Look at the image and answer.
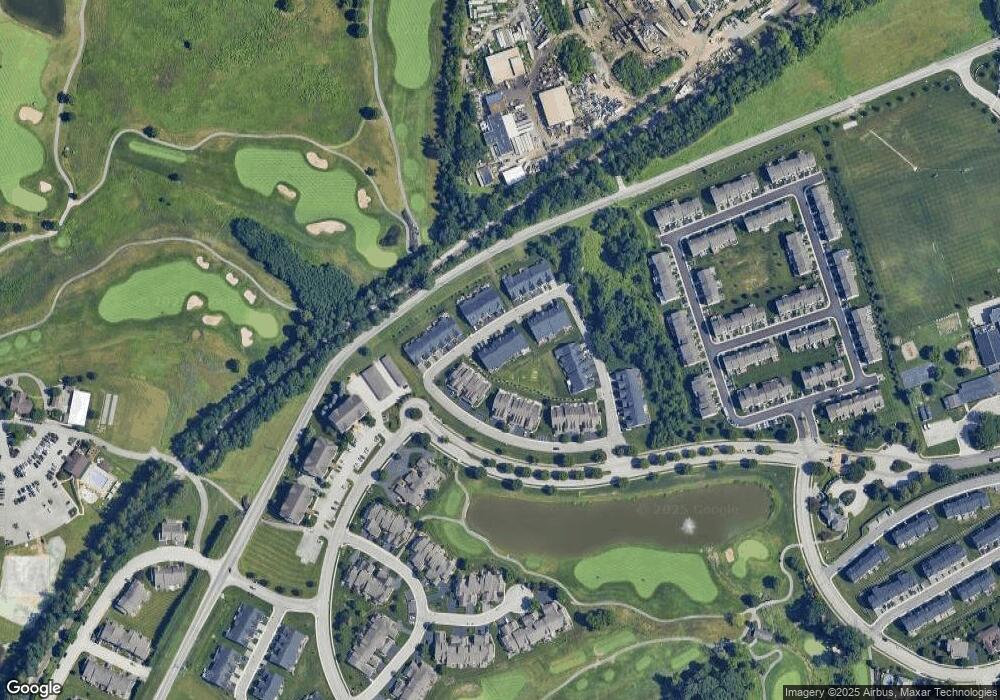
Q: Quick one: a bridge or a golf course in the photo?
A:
golf course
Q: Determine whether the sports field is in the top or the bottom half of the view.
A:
top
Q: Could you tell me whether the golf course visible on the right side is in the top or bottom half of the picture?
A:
bottom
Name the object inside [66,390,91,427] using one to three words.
barn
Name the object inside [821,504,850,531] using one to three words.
house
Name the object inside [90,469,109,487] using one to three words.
swimming pool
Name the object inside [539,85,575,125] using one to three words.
building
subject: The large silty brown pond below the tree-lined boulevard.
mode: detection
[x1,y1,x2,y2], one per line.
[467,482,772,556]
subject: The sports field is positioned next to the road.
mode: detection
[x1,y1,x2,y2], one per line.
[842,90,1000,334]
